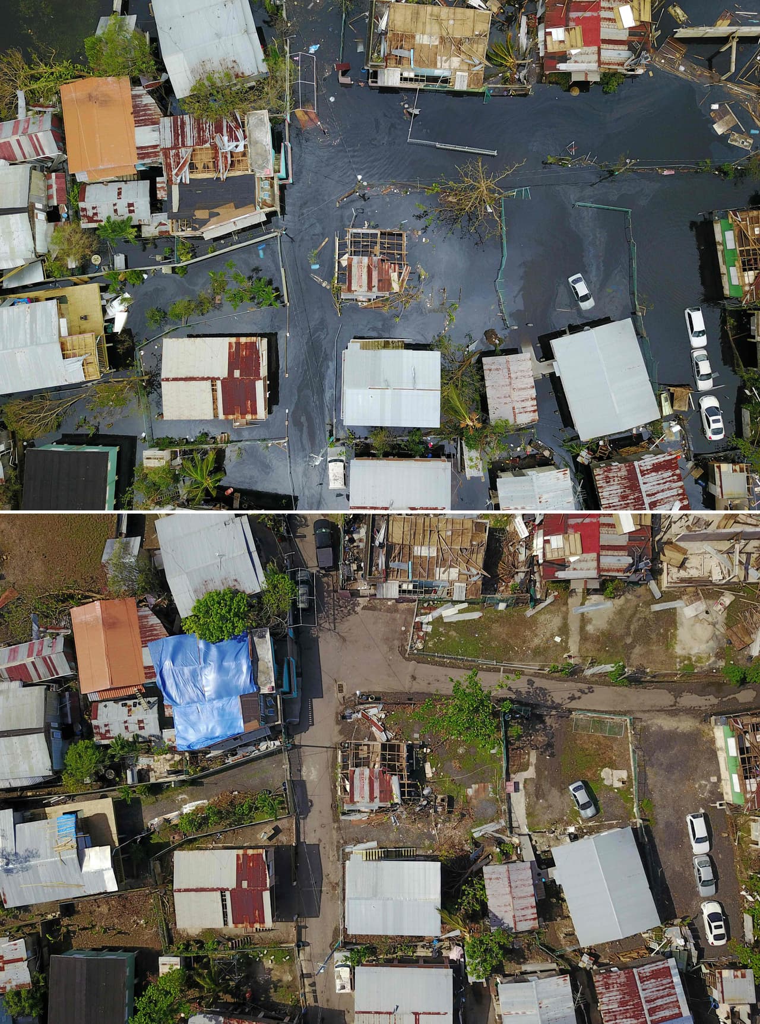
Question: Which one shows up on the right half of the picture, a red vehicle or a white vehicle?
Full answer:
It is a white vehicle that can be seen on the right half of the picture.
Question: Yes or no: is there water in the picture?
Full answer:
Yes, some water is visible.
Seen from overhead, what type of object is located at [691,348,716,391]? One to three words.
car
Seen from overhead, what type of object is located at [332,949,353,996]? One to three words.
truck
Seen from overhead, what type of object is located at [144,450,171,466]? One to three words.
shed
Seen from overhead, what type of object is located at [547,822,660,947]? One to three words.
house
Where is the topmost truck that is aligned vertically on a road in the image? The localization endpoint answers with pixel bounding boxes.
[312,519,334,569]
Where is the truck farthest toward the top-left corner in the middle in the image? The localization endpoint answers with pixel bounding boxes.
[325,446,347,489]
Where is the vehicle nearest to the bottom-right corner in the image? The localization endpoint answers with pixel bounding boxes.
[701,899,727,947]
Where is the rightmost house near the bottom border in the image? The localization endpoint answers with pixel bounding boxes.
[707,963,756,1017]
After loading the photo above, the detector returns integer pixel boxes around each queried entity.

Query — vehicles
[332,949,353,996]
[325,446,347,489]
[684,306,709,349]
[691,348,716,391]
[701,899,727,947]
[692,853,718,898]
[699,395,726,442]
[295,570,315,610]
[566,271,593,312]
[686,811,712,855]
[312,519,334,569]
[569,778,596,820]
